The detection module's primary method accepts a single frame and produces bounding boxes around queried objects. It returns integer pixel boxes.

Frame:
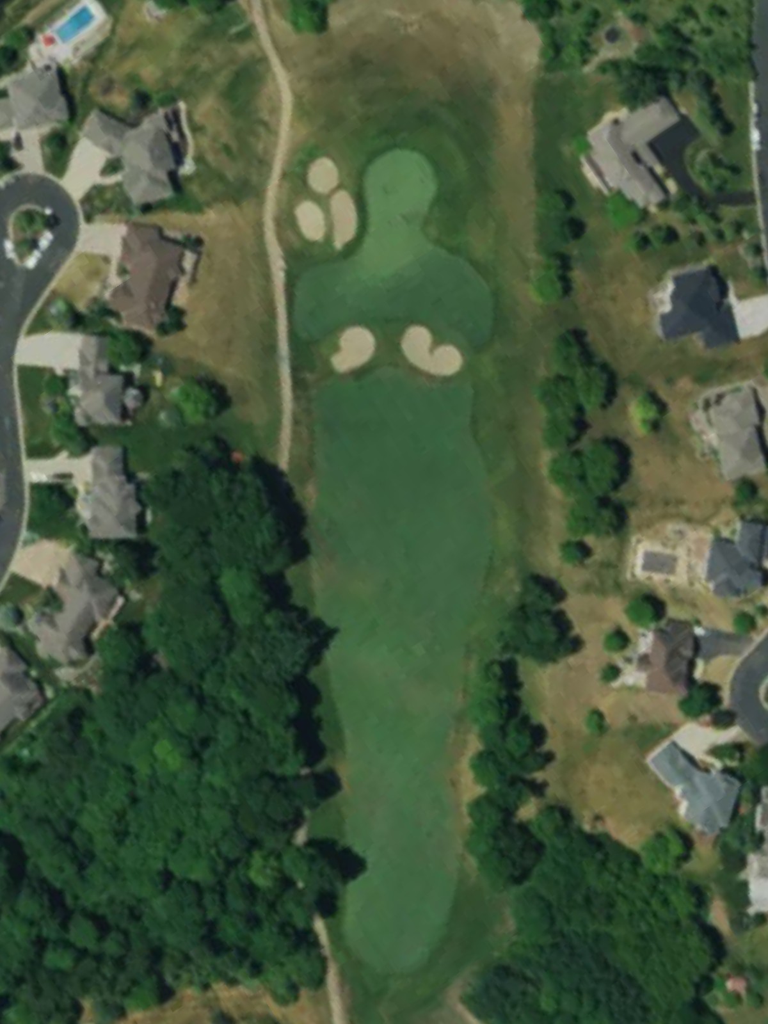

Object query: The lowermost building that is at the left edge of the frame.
[0,638,44,725]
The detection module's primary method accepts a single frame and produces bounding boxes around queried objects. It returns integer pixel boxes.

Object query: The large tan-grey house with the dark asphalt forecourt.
[580,94,680,213]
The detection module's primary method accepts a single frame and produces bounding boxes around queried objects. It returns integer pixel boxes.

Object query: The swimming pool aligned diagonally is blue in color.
[53,2,98,46]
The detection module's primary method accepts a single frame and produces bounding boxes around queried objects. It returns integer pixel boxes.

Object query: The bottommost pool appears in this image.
[639,548,681,577]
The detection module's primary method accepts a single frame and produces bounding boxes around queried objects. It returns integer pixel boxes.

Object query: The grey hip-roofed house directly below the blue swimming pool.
[0,66,67,131]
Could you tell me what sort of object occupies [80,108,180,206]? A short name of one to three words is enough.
house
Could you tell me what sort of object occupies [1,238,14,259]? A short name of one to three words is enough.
vehicle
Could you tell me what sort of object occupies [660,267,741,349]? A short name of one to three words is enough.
house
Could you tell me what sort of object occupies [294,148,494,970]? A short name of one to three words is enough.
golf course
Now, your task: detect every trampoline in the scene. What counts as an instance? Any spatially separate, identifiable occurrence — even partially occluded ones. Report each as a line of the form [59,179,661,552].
[604,27,620,43]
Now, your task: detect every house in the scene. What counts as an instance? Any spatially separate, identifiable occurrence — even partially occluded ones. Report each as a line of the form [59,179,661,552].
[660,267,741,349]
[580,94,680,213]
[80,108,180,206]
[709,388,768,481]
[638,619,699,695]
[26,548,120,668]
[74,334,121,426]
[707,520,768,600]
[0,638,44,725]
[0,66,67,131]
[652,742,742,835]
[88,446,141,538]
[106,223,185,330]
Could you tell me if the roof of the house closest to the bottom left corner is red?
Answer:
No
